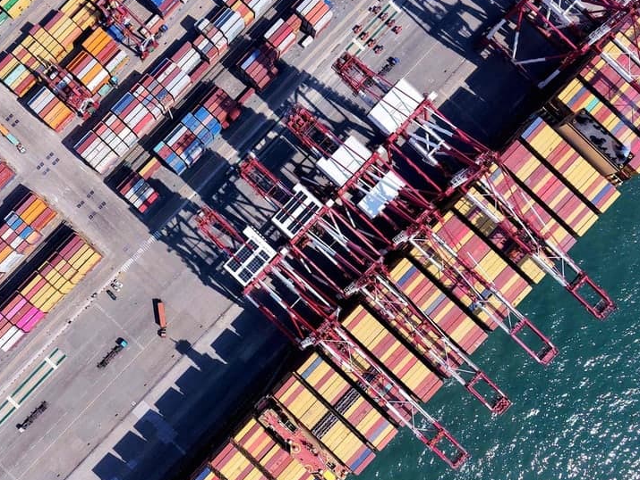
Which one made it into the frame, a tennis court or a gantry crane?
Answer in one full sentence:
The one in the frame is a gantry crane.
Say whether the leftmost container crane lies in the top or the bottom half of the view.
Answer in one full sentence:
The leftmost container crane is in the top half of the image.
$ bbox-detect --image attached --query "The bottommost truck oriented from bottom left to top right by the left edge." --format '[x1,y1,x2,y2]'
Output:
[18,403,44,430]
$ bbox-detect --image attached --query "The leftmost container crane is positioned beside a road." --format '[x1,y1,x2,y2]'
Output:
[34,56,107,132]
